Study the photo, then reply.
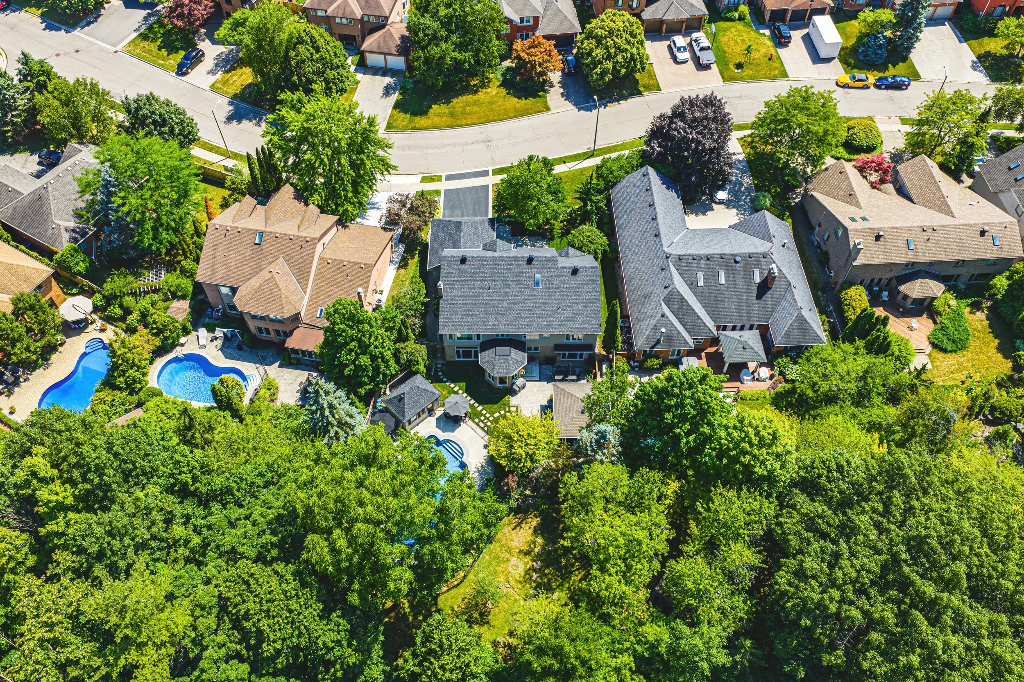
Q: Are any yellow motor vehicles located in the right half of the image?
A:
Yes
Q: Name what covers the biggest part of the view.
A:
trees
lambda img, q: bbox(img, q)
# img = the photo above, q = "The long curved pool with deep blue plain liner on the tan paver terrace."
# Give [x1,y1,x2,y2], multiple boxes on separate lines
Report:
[39,338,110,419]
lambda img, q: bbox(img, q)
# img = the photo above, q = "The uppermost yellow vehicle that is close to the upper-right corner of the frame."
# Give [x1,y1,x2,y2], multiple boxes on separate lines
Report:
[836,74,877,90]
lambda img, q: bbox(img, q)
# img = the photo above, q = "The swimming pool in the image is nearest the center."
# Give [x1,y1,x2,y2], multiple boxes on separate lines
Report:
[401,435,468,481]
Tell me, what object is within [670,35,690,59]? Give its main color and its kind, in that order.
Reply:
white car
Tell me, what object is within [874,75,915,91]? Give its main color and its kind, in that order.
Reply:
blue car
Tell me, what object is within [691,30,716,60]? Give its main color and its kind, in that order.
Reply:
white truck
